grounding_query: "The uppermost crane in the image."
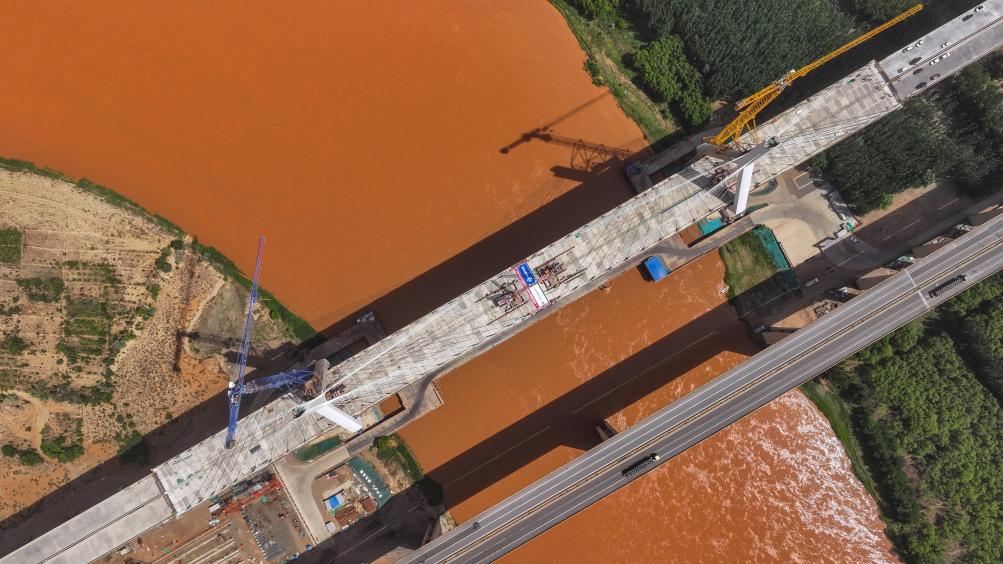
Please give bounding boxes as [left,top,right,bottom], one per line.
[682,5,924,168]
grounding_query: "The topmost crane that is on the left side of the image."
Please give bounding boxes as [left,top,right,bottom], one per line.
[223,237,346,448]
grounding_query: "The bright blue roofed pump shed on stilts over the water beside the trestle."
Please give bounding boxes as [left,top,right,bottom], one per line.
[642,254,673,285]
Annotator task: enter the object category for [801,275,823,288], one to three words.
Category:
vehicle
